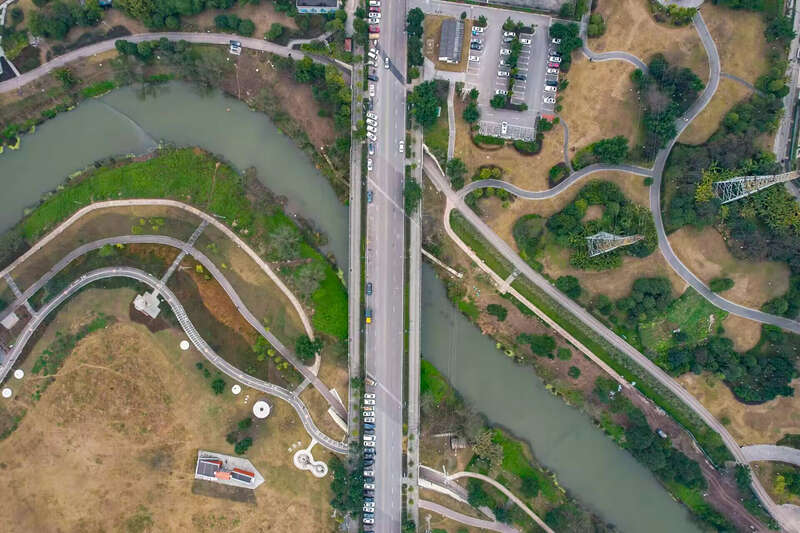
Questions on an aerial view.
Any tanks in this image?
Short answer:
No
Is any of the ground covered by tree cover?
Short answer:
Yes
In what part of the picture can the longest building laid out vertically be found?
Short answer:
top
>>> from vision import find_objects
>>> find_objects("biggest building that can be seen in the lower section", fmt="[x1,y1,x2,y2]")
[194,449,265,490]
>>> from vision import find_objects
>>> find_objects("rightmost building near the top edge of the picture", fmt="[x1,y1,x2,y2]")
[438,20,464,66]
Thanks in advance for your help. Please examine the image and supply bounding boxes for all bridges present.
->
[347,142,423,533]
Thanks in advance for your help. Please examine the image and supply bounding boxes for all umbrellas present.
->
[231,385,241,394]
[2,388,12,398]
[180,340,189,349]
[14,370,25,378]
